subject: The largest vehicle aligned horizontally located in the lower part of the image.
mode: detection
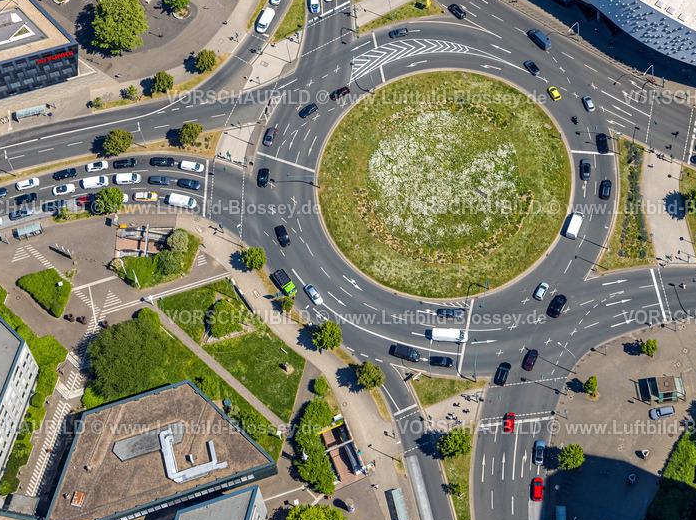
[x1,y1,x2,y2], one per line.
[432,326,468,344]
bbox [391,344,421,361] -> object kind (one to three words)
vehicle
